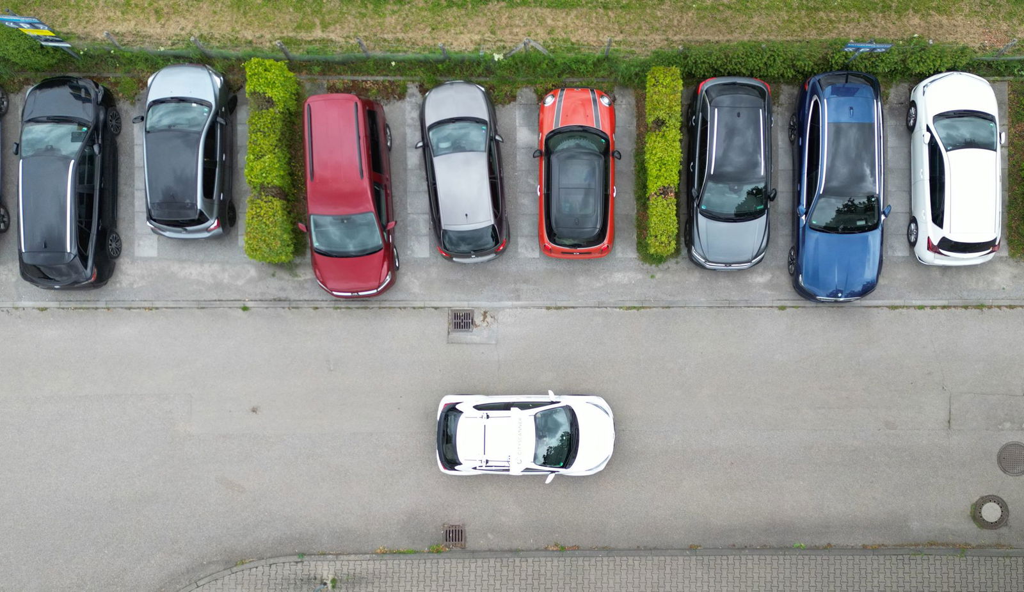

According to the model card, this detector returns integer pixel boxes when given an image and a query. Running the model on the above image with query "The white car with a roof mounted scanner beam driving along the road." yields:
[435,388,615,484]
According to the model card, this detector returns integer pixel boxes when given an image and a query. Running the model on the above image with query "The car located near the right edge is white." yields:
[908,72,1012,267]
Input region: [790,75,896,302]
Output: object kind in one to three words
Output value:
car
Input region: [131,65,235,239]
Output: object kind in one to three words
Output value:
car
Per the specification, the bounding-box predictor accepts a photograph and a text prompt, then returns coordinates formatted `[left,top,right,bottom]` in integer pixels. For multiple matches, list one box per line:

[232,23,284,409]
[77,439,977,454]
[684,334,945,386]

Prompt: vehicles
[685,79,783,272]
[790,75,896,302]
[435,388,615,484]
[293,95,398,301]
[131,65,235,239]
[530,88,624,261]
[908,72,1012,267]
[7,77,123,290]
[413,81,512,264]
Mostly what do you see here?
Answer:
paved ground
